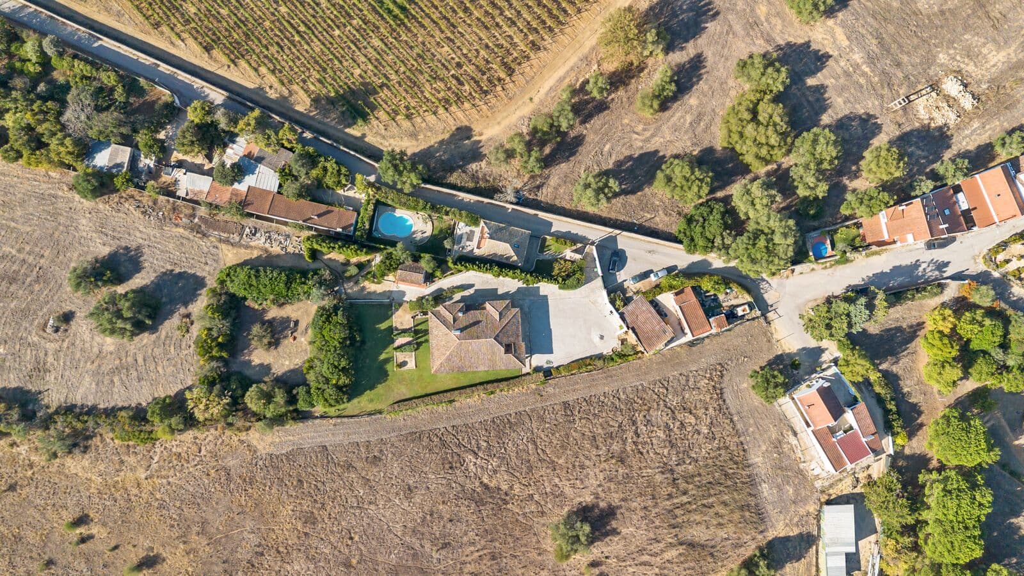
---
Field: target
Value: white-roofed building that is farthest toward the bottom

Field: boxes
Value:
[818,500,855,576]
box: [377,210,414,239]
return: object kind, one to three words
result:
swimming pool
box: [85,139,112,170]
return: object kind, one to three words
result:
shed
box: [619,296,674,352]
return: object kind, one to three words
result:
house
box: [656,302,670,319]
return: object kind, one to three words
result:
car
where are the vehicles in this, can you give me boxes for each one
[656,302,670,319]
[650,268,668,279]
[611,251,622,272]
[925,239,944,249]
[631,271,649,282]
